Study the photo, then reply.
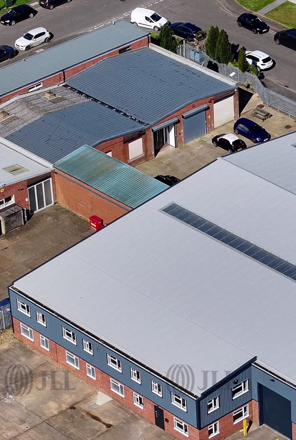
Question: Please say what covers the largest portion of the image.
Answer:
buildings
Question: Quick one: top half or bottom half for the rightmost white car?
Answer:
top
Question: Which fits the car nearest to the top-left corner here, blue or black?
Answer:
black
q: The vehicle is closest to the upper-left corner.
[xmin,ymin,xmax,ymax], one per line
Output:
[1,3,34,24]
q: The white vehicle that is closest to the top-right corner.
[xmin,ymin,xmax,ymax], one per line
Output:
[245,49,274,71]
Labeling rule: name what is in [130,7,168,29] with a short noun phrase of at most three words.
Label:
vehicle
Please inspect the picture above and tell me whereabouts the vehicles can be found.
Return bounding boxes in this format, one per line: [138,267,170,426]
[130,7,168,29]
[276,27,296,52]
[232,117,268,143]
[0,46,16,61]
[15,27,51,50]
[245,49,274,71]
[211,133,244,152]
[1,3,34,24]
[38,0,71,9]
[236,12,268,33]
[171,22,202,41]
